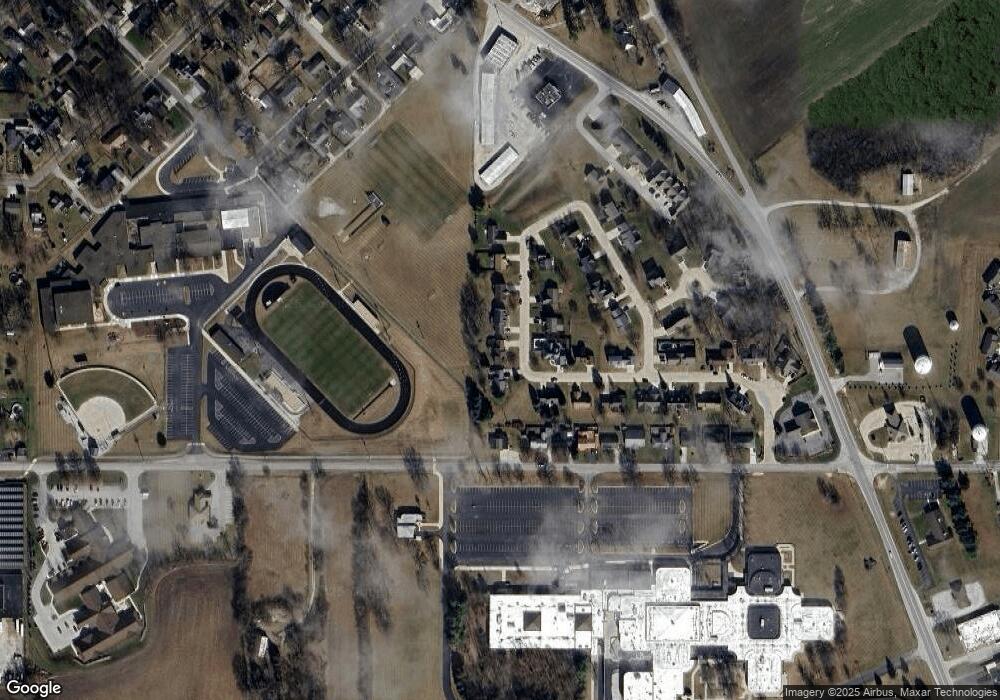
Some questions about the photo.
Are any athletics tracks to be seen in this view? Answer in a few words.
Yes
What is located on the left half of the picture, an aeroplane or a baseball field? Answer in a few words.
baseball field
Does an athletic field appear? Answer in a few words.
Yes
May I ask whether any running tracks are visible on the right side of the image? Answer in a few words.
No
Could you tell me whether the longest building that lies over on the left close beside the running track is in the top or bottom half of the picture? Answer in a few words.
top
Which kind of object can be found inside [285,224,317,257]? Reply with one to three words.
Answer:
building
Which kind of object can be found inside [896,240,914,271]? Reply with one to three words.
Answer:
barn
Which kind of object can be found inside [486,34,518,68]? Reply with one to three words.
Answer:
building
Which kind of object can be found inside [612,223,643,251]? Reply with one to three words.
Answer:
house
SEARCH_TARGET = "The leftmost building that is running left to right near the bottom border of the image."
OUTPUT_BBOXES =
[490,548,835,700]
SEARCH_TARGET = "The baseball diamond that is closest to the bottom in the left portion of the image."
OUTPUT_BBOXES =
[57,369,159,457]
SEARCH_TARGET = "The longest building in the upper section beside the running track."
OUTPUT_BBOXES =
[73,198,262,279]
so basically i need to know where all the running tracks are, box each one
[217,265,410,434]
